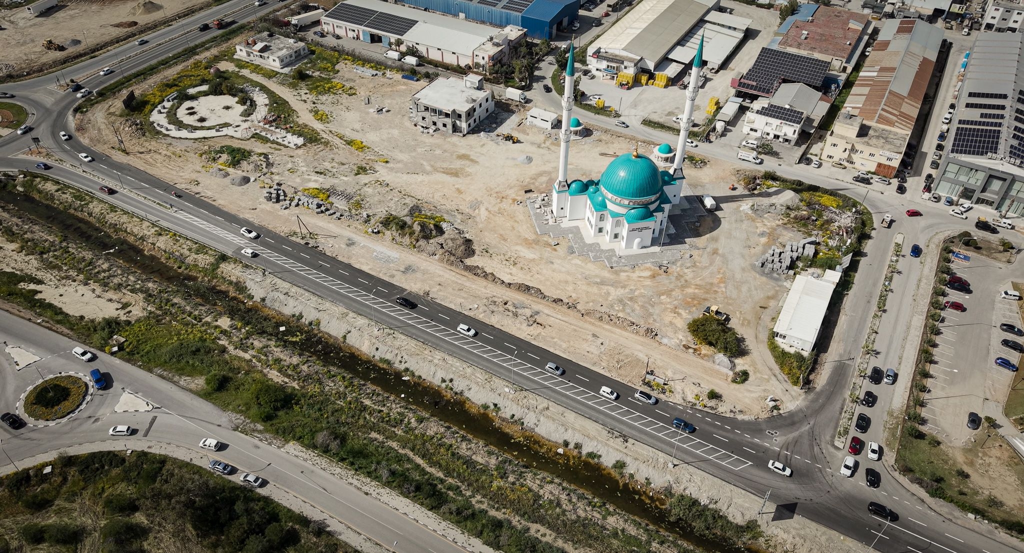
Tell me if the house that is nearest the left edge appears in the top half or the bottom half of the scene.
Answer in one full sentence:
It is in the top half that the house that is nearest the left edge appears.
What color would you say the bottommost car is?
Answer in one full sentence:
The bottommost car is black.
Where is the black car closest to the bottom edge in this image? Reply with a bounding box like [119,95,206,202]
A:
[868,501,898,523]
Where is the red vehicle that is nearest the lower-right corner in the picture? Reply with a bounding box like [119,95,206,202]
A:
[848,436,861,456]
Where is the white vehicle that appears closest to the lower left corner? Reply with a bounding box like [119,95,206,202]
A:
[108,425,133,438]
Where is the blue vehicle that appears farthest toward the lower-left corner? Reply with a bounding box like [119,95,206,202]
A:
[90,368,106,390]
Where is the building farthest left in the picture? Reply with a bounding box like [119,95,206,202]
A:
[230,32,315,71]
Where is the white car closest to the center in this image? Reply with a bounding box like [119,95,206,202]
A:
[457,324,476,338]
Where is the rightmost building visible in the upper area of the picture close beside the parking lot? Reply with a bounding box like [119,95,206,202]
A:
[933,36,1024,221]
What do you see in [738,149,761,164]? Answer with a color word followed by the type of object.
white vehicle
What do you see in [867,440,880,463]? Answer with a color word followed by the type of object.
white vehicle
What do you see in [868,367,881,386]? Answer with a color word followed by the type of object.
black vehicle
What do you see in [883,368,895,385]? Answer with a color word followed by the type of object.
gray vehicle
